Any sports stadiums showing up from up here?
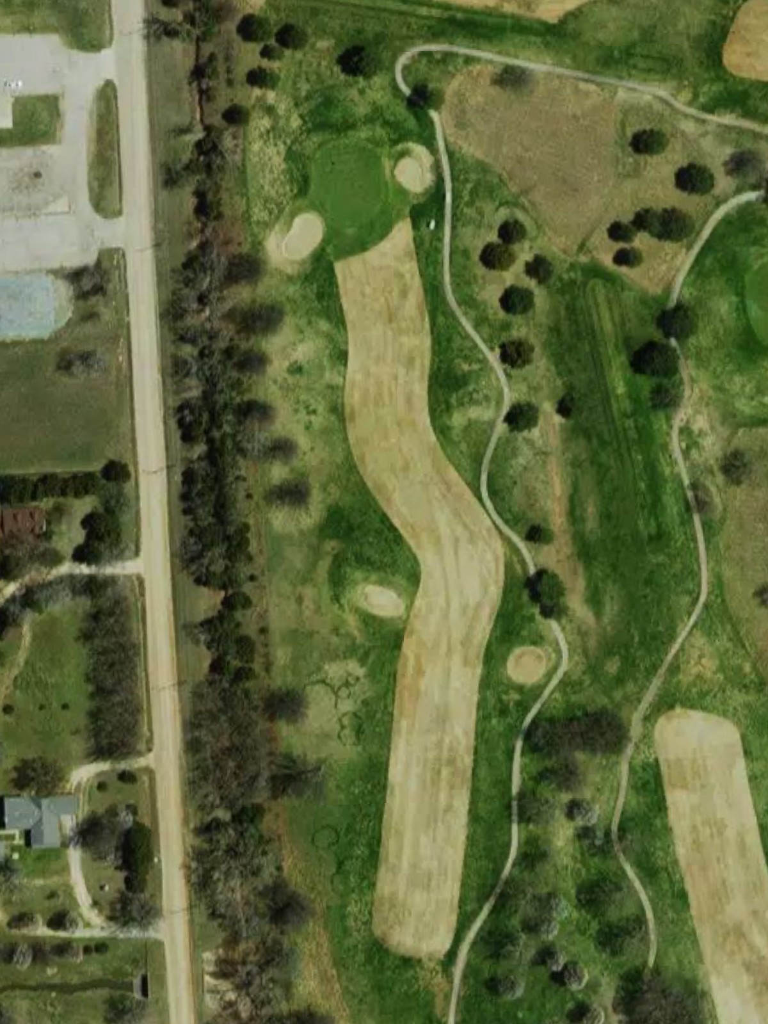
No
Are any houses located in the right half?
No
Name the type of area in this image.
golf course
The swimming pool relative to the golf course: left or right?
on the left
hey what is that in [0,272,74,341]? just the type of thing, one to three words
swimming pool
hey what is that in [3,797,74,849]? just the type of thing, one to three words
house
